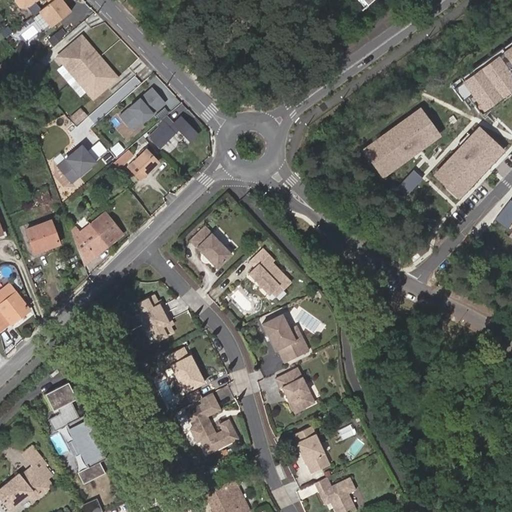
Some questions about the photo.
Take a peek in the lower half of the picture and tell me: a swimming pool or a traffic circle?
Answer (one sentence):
There is a swimming pool in the lower half of the picture.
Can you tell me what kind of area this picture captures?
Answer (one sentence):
The area seen from above is a residential area.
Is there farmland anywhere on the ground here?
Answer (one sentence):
No, no farmland is visible.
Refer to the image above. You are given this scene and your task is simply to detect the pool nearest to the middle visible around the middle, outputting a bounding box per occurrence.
[231,290,253,312]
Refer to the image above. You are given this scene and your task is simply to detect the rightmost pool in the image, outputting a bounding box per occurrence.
[345,438,364,461]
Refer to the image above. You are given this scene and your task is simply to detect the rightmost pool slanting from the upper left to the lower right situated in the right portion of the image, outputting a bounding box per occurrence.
[296,310,322,332]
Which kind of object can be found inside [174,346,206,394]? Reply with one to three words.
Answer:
house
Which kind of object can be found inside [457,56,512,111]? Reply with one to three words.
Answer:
building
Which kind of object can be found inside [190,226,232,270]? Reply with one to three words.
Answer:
house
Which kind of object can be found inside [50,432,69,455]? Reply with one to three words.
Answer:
swimming pool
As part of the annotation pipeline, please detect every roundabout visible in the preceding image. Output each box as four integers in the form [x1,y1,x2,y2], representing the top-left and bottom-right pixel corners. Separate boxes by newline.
[213,112,286,184]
